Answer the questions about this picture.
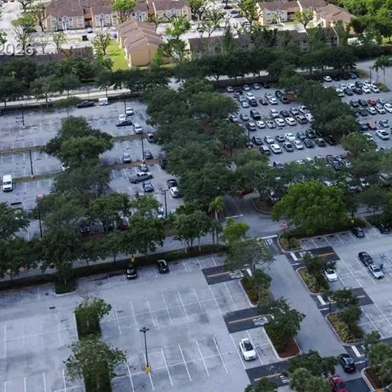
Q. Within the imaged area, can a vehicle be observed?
Yes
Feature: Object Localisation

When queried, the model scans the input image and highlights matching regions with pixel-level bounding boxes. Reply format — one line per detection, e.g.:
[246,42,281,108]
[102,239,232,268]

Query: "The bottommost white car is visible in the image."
[239,337,257,361]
